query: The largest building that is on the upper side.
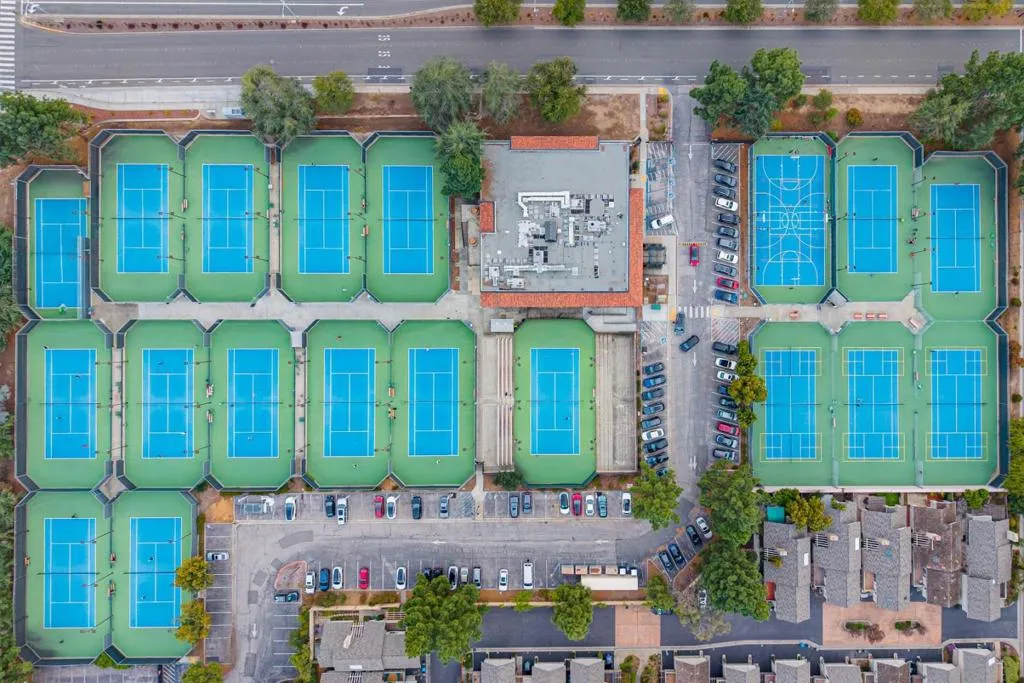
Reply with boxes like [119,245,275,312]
[479,136,643,307]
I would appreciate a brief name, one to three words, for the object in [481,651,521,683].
house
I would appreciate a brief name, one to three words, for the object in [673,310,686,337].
vehicle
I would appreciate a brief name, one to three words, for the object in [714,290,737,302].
vehicle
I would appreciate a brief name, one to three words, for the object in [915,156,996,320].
tennis court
